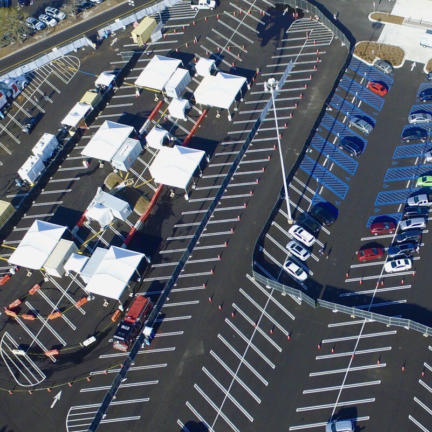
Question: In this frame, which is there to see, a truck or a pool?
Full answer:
Visible in the photo is a truck.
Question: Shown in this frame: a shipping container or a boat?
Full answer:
Looking from above, you can make out a shipping container.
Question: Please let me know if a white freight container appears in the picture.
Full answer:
Yes, a white freight container is visible in the scene.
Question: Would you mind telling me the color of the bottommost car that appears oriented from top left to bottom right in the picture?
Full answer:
In this view, the bottommost car that appears oriented from top left to bottom right is white.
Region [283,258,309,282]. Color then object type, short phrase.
white car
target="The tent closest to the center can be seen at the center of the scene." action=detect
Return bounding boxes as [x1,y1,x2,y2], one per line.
[154,145,207,197]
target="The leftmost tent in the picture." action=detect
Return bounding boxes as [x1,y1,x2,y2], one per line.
[8,220,72,278]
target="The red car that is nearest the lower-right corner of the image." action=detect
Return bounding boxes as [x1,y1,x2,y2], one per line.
[355,246,386,261]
